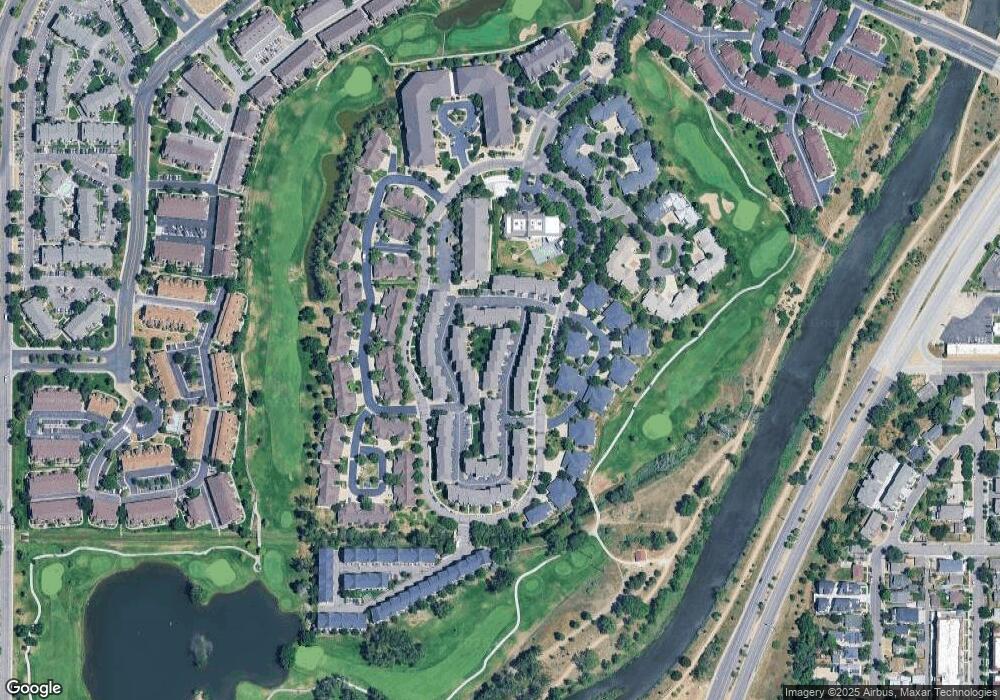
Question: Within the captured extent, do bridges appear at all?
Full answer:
Yes, there's a bridge here.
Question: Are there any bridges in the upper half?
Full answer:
Yes, a bridge appears in the upper half.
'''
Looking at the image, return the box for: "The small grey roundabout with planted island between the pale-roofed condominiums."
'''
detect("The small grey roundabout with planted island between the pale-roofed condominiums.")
[647,235,684,272]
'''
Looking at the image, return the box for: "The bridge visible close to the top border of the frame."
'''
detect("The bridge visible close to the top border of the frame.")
[921,13,992,69]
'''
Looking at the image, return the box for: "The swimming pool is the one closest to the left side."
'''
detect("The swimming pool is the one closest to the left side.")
[59,178,75,197]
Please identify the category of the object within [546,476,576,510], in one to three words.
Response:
house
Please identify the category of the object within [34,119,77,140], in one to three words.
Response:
building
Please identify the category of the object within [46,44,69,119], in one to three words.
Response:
building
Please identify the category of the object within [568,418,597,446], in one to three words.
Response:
house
